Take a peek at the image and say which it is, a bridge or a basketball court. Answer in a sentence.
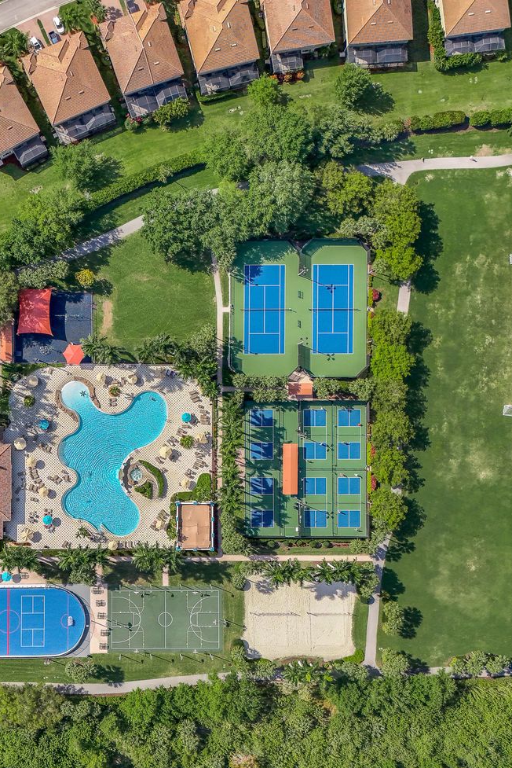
I can see a basketball court in this picture.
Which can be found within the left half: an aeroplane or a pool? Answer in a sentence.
You can see a pool within the left half.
